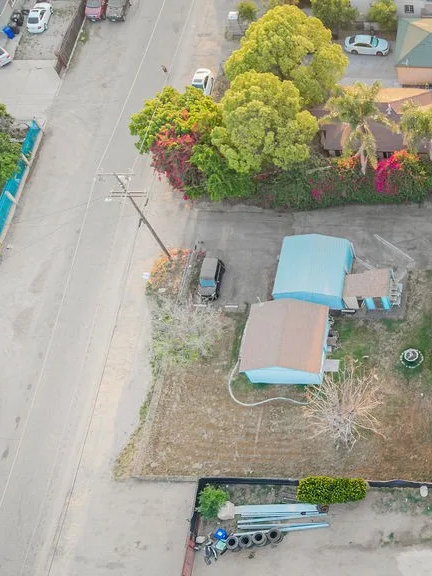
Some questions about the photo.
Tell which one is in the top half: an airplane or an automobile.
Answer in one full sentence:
There is an automobile in the top half.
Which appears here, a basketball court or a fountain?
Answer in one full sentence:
It is a fountain that can be seen here.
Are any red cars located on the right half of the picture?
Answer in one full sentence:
No, I see no red car on the right half of the picture.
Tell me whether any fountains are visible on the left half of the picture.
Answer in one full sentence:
No, no fountain is visible on the left half of the picture.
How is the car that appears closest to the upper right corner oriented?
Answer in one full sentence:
The car that appears closest to the upper right corner is laid out from side to side.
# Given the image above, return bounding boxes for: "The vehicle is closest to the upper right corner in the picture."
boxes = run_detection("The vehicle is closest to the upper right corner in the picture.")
[343,35,389,57]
